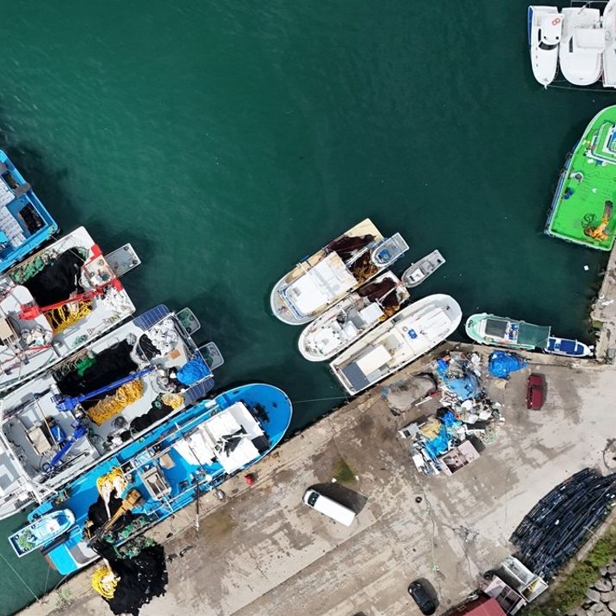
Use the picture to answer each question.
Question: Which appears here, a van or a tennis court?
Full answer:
The image shows a van.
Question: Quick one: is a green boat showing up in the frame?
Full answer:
Yes, a green boat can be made out from above.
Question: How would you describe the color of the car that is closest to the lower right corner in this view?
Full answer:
From above, the car that is closest to the lower right corner appears black.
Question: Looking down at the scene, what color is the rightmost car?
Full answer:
From above, the rightmost car appears red.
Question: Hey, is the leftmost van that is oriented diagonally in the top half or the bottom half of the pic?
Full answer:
You can find the leftmost van that is oriented diagonally in the bottom half.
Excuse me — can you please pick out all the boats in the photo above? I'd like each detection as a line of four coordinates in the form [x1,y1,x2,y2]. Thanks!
[597,1,616,88]
[538,104,616,252]
[11,511,77,555]
[0,305,222,519]
[271,219,394,319]
[29,390,293,575]
[556,1,611,87]
[524,6,563,91]
[371,235,408,265]
[299,273,409,362]
[330,300,462,395]
[104,245,140,275]
[402,250,445,285]
[462,314,550,349]
[0,230,134,393]
[0,153,56,268]
[542,337,591,356]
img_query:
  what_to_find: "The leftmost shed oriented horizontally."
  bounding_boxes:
[447,589,506,616]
